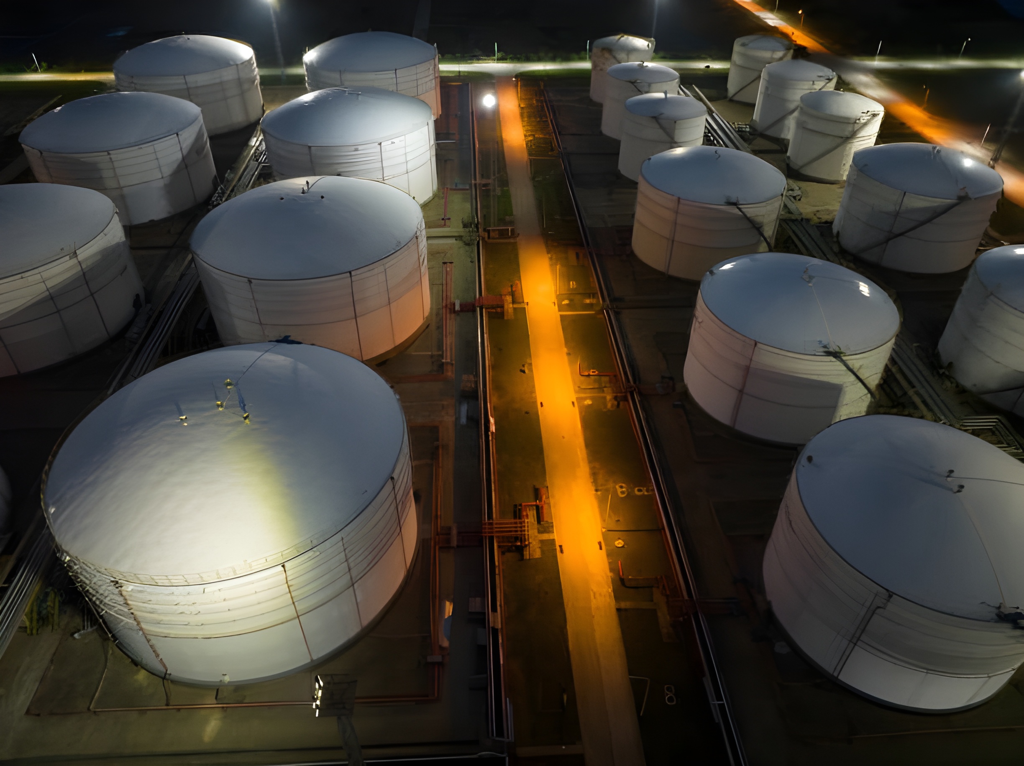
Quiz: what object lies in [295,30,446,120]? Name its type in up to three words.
storage tank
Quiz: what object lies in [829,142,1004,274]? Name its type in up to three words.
storage tank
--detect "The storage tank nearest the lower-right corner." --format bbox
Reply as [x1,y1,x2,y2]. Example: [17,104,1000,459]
[760,414,1024,717]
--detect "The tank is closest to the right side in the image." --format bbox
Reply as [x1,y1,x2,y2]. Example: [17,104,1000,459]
[936,241,1024,414]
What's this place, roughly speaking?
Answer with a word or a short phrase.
industrial area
